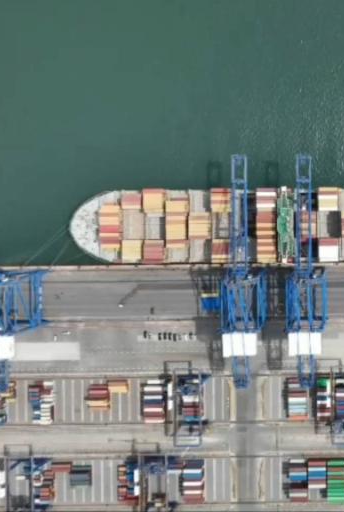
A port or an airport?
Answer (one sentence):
What you see here is a port.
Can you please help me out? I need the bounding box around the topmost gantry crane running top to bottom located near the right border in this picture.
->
[285,154,332,387]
